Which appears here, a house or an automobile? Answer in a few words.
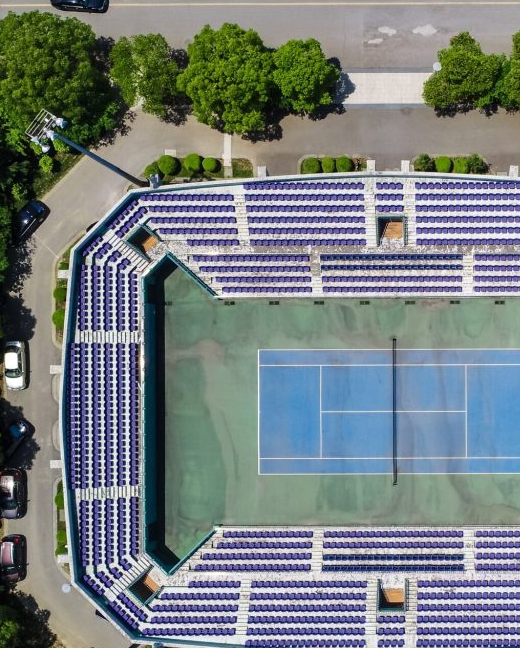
automobile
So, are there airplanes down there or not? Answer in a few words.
No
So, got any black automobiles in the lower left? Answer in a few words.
Yes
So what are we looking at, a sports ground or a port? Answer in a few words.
sports ground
